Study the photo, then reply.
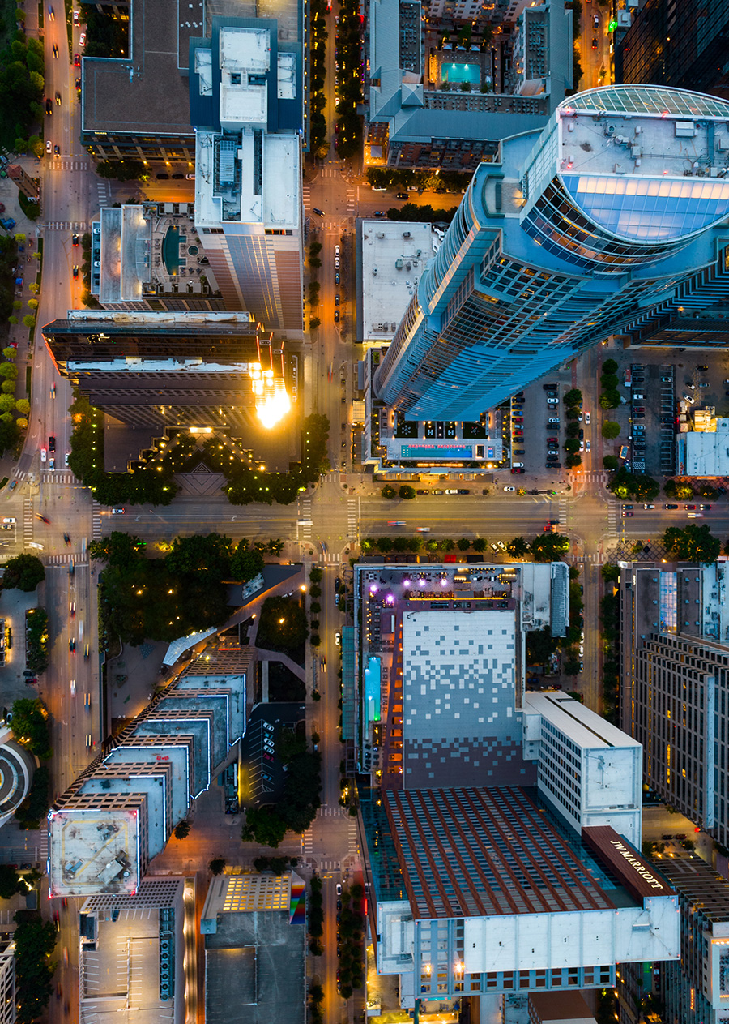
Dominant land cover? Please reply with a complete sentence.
What you mostly see from above here is buildings.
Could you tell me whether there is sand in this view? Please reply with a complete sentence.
No, there's no sand in this view.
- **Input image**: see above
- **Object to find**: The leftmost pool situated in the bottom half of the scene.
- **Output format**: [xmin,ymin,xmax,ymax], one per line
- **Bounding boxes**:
[366,657,380,739]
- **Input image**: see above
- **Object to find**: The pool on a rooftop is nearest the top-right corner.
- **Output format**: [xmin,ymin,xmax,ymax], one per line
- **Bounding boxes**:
[441,64,480,83]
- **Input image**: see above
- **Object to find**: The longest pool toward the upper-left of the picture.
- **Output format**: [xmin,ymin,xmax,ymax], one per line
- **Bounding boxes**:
[164,226,179,274]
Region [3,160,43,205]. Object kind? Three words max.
building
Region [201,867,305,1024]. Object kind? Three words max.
building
